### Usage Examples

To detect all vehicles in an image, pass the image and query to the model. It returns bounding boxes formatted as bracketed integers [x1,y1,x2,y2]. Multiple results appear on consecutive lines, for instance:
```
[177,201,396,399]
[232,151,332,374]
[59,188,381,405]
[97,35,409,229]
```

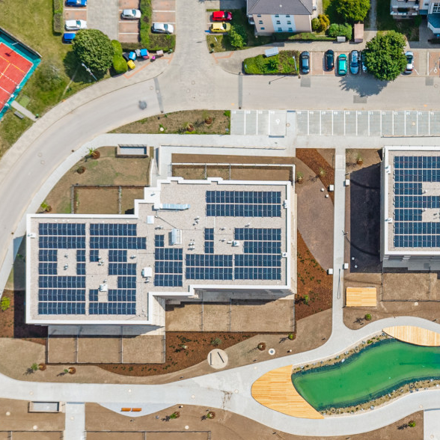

[211,21,231,33]
[349,49,360,74]
[122,7,141,19]
[60,32,79,43]
[153,22,174,34]
[338,53,348,75]
[213,9,233,21]
[65,0,87,7]
[300,51,311,74]
[325,49,336,71]
[65,18,87,29]
[405,51,415,74]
